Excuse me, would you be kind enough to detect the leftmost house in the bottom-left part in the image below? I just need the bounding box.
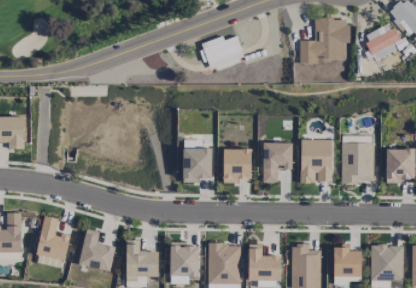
[0,213,22,266]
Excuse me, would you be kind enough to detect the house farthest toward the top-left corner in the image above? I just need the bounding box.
[0,116,25,150]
